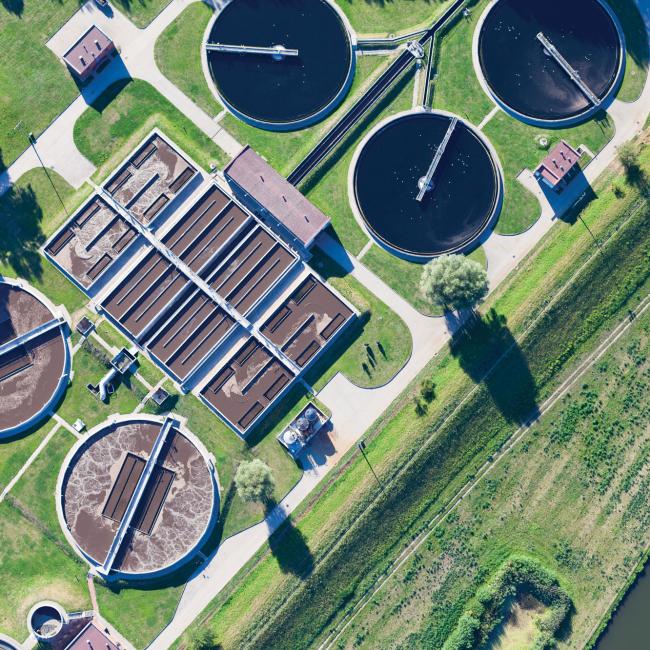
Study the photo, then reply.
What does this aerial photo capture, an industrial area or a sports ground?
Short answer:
industrial area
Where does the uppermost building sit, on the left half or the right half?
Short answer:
left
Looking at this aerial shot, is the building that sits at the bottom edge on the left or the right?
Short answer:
left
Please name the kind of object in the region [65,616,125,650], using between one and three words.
building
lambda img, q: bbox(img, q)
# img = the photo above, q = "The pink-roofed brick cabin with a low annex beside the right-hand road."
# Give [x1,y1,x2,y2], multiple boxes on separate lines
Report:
[531,141,582,193]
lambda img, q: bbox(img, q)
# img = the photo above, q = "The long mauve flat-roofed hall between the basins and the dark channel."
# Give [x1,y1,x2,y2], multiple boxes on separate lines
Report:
[223,145,332,251]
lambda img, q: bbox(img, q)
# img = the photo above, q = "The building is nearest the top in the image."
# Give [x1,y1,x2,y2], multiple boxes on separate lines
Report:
[63,23,116,80]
